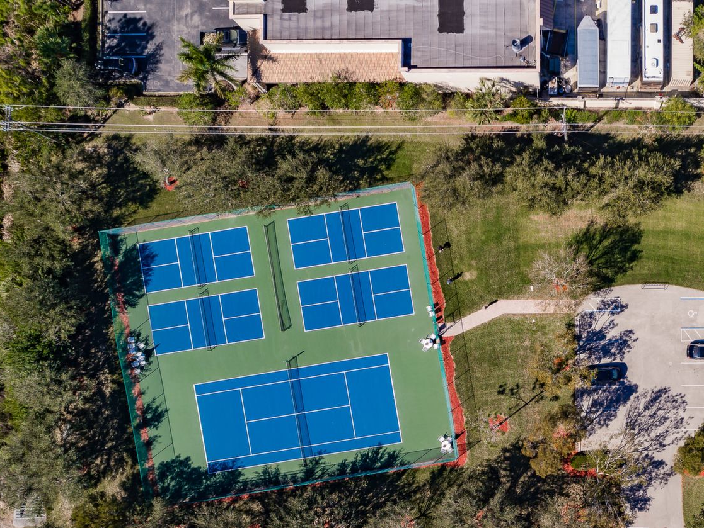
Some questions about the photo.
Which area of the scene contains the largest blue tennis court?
bottom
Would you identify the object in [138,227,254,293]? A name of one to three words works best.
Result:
sports court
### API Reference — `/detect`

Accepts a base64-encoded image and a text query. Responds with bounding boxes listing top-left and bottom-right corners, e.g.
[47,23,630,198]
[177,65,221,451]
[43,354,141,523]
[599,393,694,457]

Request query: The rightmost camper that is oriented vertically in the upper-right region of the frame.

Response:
[639,0,663,94]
